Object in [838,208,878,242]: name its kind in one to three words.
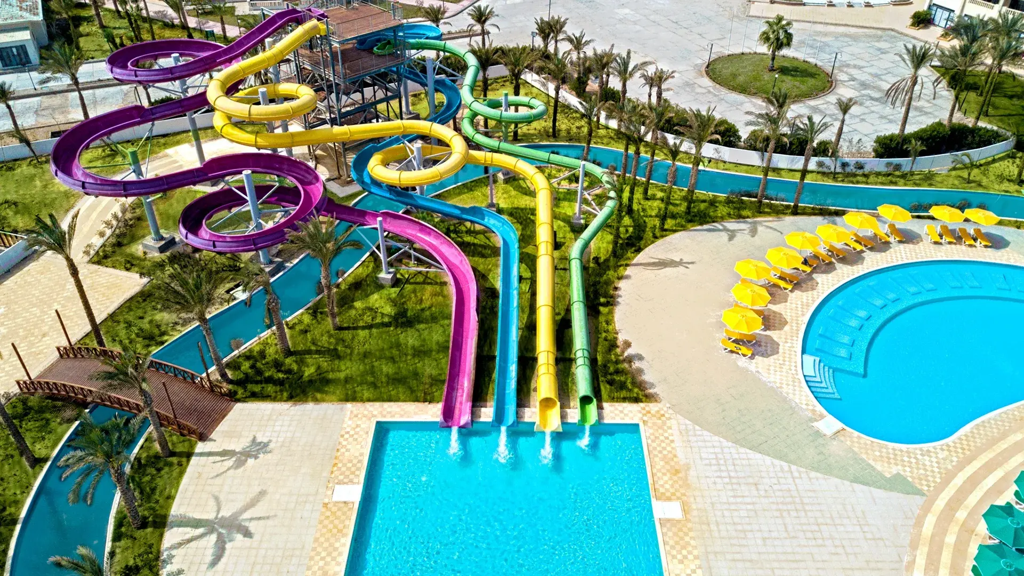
umbrella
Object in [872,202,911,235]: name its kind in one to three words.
umbrella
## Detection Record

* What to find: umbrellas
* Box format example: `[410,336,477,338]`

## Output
[967,541,1024,576]
[974,503,1024,553]
[730,280,772,305]
[838,208,878,242]
[960,205,999,235]
[783,229,822,251]
[732,256,772,281]
[872,202,911,235]
[814,221,853,257]
[927,202,964,233]
[763,245,804,281]
[720,304,763,345]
